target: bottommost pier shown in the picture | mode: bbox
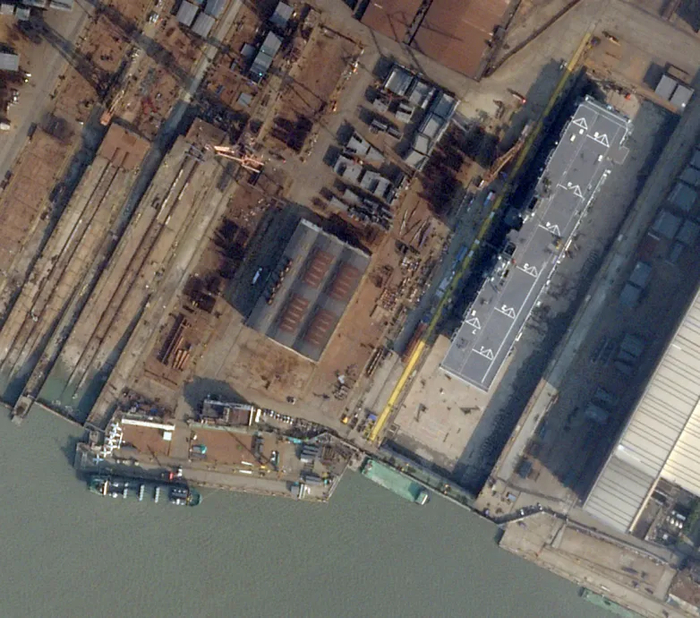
[500,512,700,618]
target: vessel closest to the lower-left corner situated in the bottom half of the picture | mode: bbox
[88,479,201,507]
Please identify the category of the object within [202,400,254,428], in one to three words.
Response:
building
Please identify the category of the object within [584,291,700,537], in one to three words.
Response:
building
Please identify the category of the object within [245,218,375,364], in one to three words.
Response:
shed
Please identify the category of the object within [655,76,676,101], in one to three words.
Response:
shed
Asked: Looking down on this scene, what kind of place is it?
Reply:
port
